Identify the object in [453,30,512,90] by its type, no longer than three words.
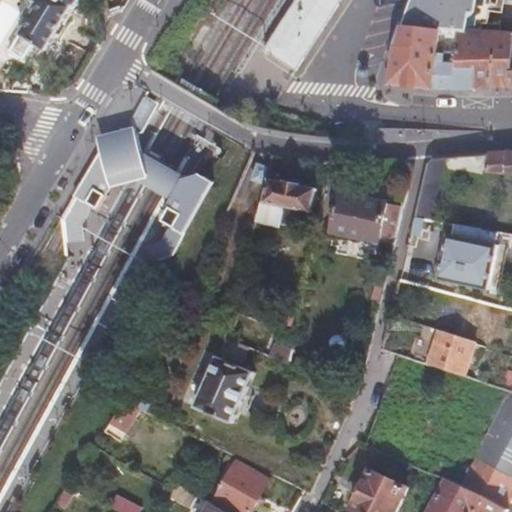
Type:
house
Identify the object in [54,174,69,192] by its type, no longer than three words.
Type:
car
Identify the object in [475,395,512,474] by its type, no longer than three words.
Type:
shed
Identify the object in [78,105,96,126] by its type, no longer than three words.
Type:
car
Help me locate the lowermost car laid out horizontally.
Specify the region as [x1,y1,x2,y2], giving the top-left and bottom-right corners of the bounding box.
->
[410,262,432,274]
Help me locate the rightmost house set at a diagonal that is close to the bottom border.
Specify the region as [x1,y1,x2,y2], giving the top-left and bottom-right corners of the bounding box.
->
[474,459,512,506]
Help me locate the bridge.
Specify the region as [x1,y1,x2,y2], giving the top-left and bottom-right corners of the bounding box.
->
[148,66,250,147]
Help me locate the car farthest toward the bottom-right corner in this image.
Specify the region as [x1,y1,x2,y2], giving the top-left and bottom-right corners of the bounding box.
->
[370,386,384,406]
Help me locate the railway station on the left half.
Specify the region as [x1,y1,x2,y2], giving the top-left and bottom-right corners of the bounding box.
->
[0,0,285,512]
